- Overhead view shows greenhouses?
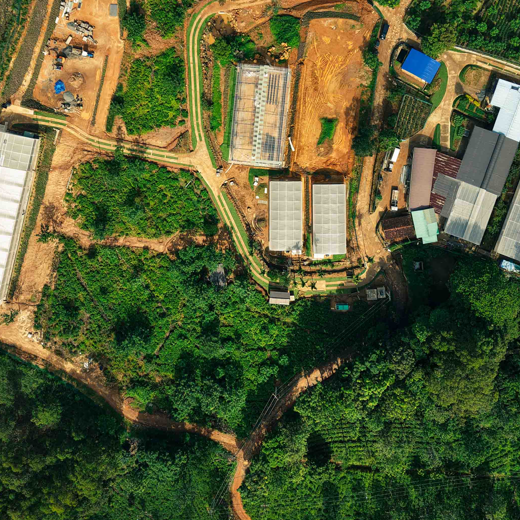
Yes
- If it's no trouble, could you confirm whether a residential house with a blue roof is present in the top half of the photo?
Yes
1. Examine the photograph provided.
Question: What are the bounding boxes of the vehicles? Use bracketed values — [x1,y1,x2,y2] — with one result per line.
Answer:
[381,24,389,40]
[391,189,399,211]
[71,48,95,57]
[55,56,69,63]
[52,64,64,70]
[388,148,401,170]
